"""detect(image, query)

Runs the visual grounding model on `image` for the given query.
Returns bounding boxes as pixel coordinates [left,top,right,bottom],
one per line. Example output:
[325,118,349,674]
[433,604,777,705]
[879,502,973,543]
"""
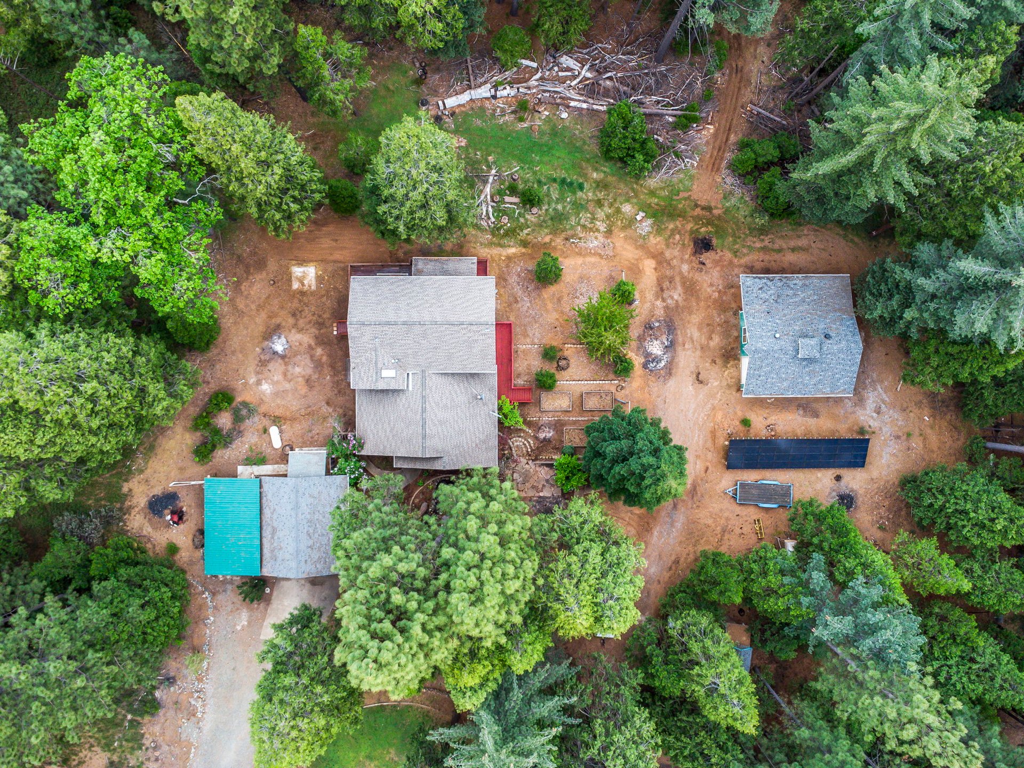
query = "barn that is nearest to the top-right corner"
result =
[738,274,866,398]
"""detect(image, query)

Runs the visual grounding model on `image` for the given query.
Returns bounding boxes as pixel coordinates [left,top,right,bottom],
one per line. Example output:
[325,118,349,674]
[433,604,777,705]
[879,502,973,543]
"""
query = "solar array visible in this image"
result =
[727,437,870,470]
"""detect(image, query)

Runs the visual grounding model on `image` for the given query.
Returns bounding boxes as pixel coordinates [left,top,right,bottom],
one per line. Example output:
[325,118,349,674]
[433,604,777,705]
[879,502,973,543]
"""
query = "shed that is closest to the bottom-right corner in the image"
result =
[726,624,753,675]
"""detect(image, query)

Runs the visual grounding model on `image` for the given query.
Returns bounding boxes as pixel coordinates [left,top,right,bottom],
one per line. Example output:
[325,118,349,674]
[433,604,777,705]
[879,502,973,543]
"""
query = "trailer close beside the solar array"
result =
[726,480,794,510]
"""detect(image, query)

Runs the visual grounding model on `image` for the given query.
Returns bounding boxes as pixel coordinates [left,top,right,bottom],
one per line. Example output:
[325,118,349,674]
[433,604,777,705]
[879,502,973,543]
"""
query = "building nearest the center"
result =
[346,258,501,470]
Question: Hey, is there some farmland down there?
No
